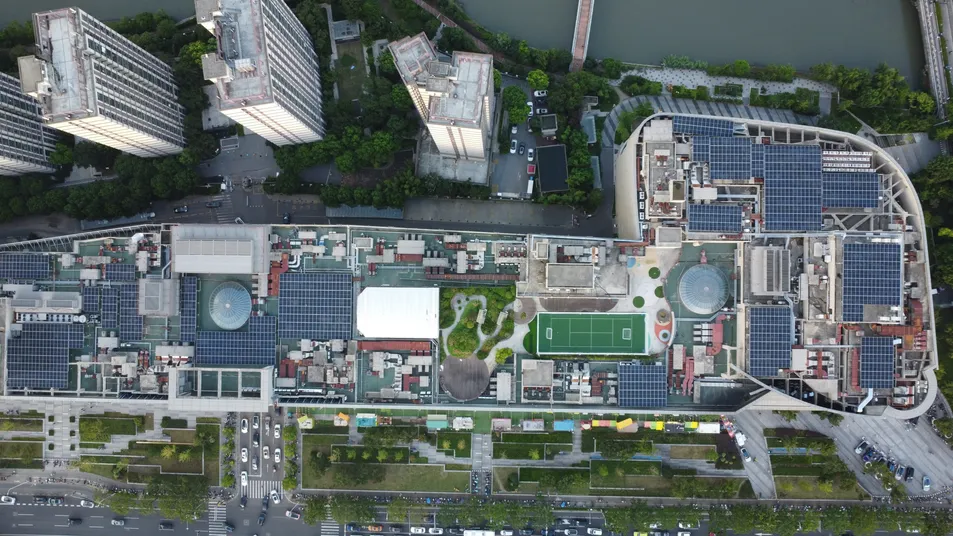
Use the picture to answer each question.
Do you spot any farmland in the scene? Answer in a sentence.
No, the scene doesn't show any farmland.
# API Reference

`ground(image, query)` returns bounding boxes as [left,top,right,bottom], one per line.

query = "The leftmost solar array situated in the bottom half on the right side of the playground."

[750,307,790,376]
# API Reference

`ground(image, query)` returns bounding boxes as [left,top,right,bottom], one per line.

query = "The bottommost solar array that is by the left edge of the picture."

[7,324,86,388]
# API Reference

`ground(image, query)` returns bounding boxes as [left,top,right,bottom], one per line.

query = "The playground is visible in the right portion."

[611,247,682,356]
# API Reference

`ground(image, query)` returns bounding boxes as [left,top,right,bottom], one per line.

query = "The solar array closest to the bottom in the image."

[620,365,667,407]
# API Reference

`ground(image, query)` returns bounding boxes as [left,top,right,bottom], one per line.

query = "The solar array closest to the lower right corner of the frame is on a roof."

[859,338,893,388]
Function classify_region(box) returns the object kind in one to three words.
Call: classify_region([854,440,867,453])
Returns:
vehicle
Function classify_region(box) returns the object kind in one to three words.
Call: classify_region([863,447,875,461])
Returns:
vehicle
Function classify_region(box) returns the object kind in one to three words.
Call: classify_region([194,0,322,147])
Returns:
building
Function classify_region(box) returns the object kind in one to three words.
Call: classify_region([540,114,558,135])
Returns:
building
